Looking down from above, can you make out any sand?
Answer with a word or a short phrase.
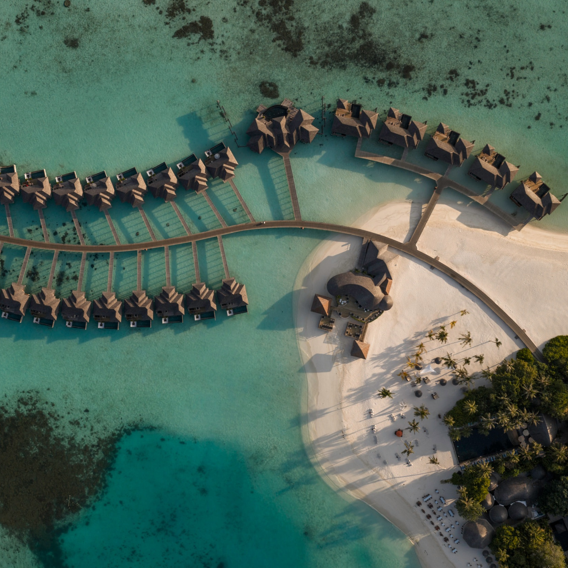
Yes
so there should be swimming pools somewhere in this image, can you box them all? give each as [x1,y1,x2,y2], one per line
[397,113,410,129]
[153,163,168,176]
[92,172,107,183]
[533,182,549,198]
[201,310,215,319]
[104,320,118,328]
[136,318,151,326]
[123,168,138,180]
[8,310,23,321]
[183,155,198,168]
[233,304,248,314]
[31,170,45,180]
[72,319,87,328]
[445,130,459,147]
[62,172,77,183]
[348,104,360,119]
[489,153,504,169]
[211,143,227,156]
[169,314,183,322]
[40,316,54,326]
[1,166,15,175]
